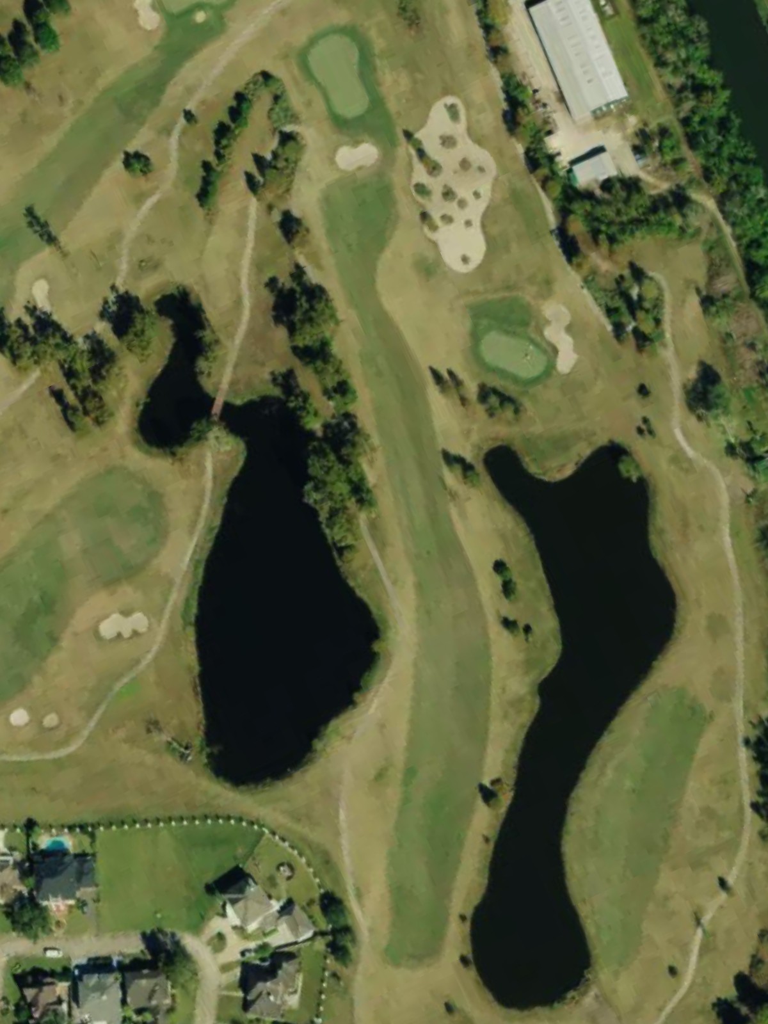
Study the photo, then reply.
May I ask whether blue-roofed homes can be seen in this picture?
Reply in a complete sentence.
No, the scene contains no blue-roofed home.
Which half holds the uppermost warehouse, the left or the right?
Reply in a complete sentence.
The uppermost warehouse is on the right side of the image.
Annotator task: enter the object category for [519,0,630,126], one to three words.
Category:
warehouse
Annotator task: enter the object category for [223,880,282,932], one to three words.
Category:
house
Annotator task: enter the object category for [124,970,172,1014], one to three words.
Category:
house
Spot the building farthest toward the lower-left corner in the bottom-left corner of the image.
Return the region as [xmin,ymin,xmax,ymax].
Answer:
[13,968,69,1024]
